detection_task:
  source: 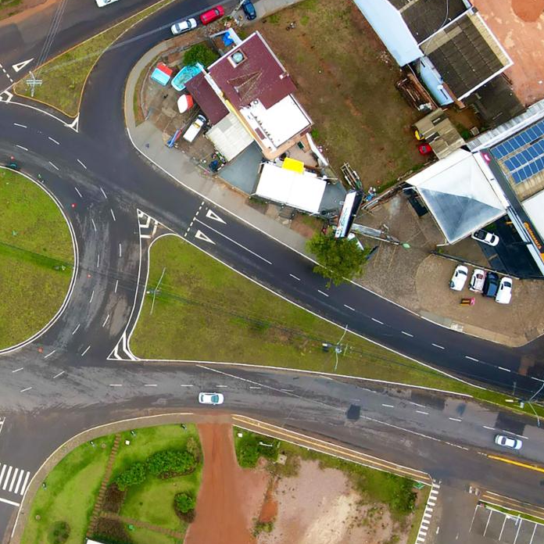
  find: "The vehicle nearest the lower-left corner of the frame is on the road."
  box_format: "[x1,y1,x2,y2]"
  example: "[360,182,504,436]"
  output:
[199,393,223,405]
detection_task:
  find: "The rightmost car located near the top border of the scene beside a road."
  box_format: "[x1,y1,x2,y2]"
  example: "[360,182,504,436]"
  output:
[242,0,257,20]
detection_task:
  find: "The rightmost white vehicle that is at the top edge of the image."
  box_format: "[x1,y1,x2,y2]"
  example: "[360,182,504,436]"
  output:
[170,18,198,33]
